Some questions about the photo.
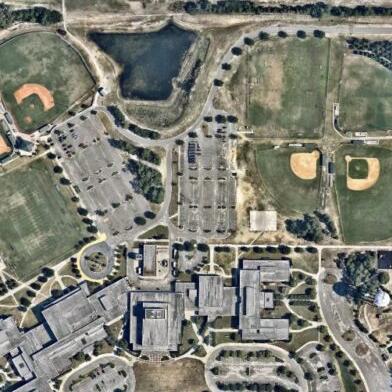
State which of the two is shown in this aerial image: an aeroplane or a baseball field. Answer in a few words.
baseball field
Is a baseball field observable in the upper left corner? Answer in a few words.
Yes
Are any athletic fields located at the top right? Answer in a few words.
Yes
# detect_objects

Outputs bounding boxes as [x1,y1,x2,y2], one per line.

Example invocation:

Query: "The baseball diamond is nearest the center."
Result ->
[256,142,325,213]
